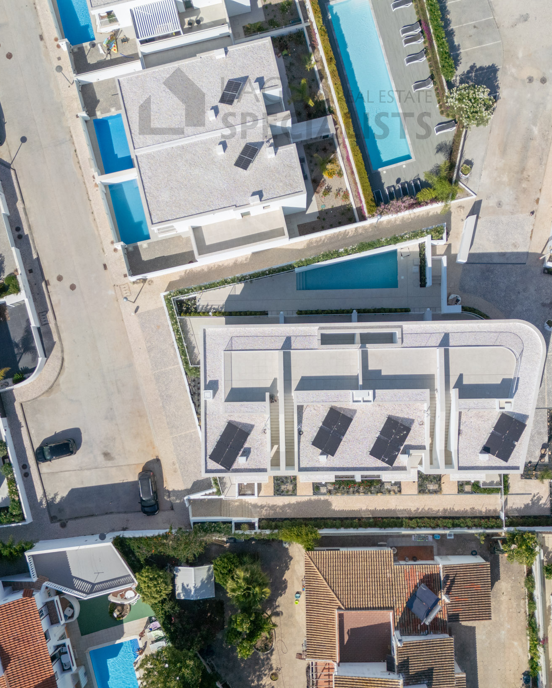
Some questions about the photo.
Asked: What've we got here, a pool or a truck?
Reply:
pool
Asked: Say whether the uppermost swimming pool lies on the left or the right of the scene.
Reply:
left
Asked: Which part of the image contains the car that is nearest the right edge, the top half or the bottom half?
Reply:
bottom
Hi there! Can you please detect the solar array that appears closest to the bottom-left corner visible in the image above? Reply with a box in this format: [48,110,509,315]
[206,421,249,469]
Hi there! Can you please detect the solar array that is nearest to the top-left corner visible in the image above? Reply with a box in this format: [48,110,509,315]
[220,79,243,108]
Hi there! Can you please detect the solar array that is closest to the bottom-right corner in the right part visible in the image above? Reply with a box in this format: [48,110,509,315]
[479,412,526,462]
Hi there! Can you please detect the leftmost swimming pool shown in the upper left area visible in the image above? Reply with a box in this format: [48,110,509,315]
[56,0,96,46]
